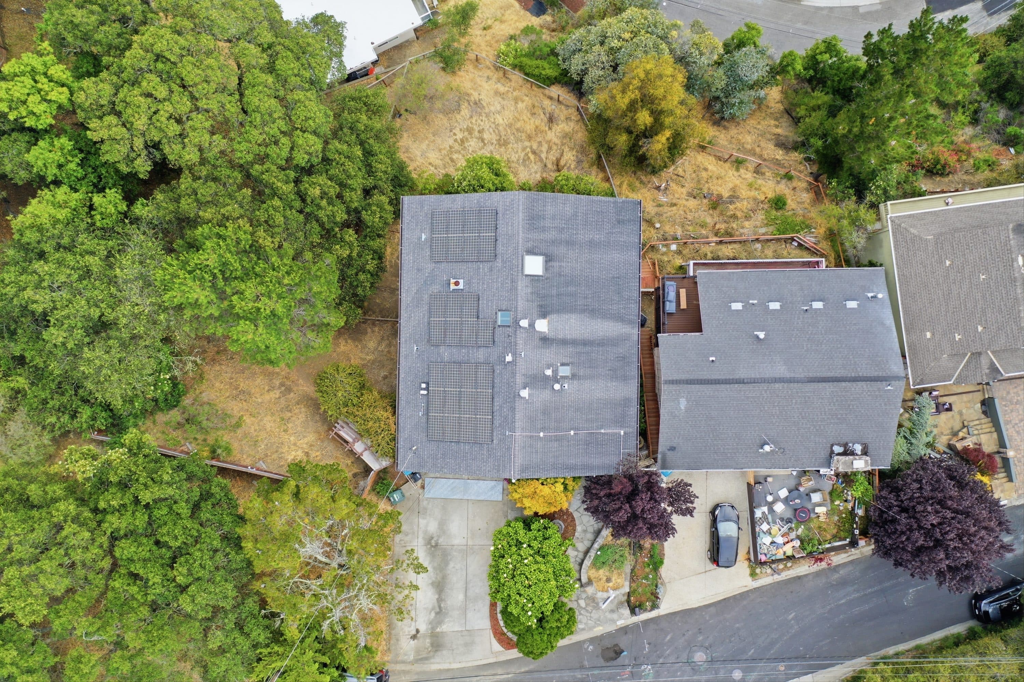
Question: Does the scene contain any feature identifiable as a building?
Yes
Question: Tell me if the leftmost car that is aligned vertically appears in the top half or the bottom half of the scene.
bottom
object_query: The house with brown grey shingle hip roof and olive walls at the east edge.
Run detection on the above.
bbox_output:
[865,181,1024,390]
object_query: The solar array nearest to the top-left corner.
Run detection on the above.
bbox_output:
[432,208,497,261]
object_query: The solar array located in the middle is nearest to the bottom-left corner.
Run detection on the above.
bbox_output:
[428,364,494,443]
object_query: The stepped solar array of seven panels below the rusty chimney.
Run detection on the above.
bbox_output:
[430,294,494,345]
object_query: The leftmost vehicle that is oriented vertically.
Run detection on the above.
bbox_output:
[709,503,743,571]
